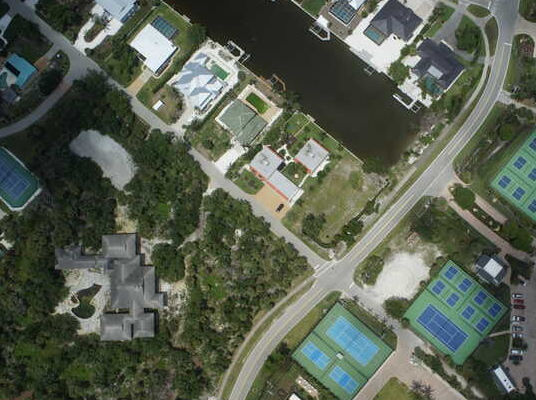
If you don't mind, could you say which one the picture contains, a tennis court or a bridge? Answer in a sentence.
There is a tennis court in the scene.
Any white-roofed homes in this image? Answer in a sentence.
Yes, there's a white-roofed home down there.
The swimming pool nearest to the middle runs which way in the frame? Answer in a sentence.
The swimming pool nearest to the middle runs at an angle in the image.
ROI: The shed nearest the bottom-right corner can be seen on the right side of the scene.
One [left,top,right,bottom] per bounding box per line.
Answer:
[486,365,515,395]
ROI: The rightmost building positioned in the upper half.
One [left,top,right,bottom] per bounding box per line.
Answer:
[413,39,465,92]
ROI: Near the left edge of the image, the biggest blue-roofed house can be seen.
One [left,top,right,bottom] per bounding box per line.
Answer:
[7,52,39,90]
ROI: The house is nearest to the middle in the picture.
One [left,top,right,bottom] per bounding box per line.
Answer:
[249,146,304,204]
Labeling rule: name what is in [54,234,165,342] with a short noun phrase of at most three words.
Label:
house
